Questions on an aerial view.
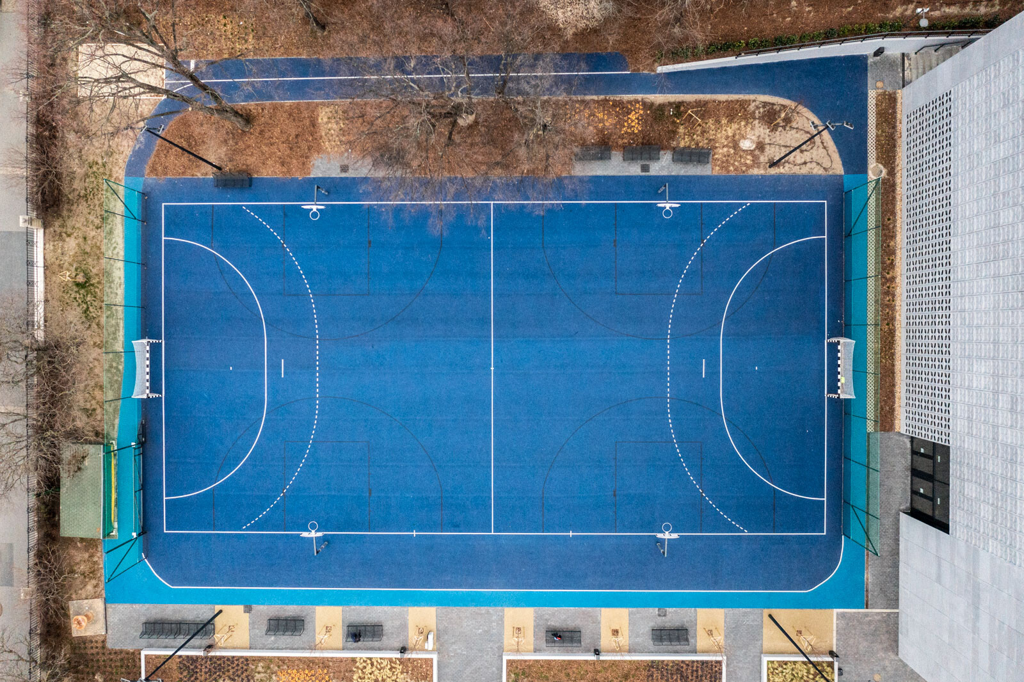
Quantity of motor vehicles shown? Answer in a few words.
none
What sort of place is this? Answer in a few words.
sports ground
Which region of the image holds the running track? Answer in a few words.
top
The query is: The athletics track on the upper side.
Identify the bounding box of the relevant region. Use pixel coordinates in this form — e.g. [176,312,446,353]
[124,52,868,176]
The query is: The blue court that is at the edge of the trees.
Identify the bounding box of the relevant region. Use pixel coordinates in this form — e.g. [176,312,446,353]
[102,55,869,610]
